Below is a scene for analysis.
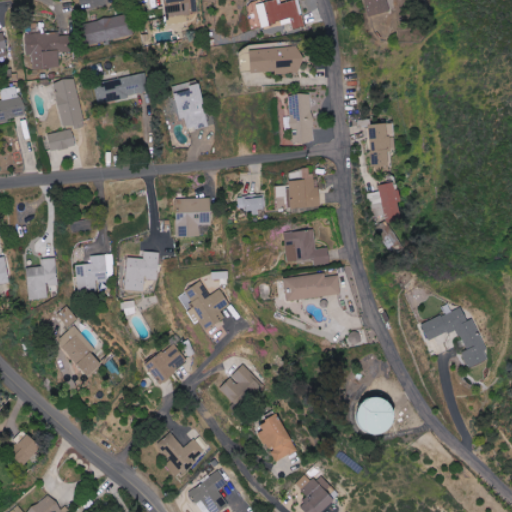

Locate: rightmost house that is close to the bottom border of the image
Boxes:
[297,464,339,512]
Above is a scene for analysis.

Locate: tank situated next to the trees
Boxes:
[357,398,394,434]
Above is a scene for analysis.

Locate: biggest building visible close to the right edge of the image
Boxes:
[422,304,490,366]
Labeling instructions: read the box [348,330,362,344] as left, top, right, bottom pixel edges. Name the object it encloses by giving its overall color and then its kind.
gray gazebo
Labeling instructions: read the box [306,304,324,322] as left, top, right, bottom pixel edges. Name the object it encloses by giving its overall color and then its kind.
blue swimming pool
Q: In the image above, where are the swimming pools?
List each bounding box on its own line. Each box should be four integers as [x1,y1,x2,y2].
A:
[34,94,44,116]
[155,30,172,43]
[173,122,188,144]
[82,330,97,347]
[132,315,148,338]
[306,304,324,322]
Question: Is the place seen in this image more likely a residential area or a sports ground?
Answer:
residential area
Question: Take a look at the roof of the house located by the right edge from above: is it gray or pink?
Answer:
gray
